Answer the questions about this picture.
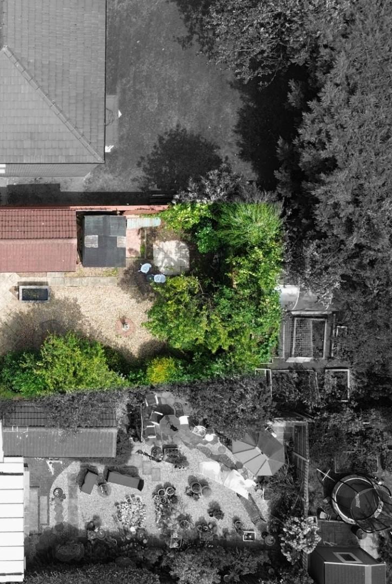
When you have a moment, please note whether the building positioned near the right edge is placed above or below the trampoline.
below it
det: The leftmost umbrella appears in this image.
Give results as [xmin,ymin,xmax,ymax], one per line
[234,428,286,478]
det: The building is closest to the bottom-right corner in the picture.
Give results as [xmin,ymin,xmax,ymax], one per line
[307,548,386,584]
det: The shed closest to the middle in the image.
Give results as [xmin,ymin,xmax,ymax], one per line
[82,216,128,266]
